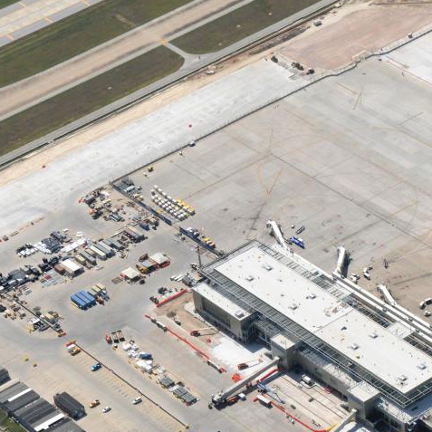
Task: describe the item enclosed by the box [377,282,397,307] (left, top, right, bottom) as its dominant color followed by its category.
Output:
white jet bridge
